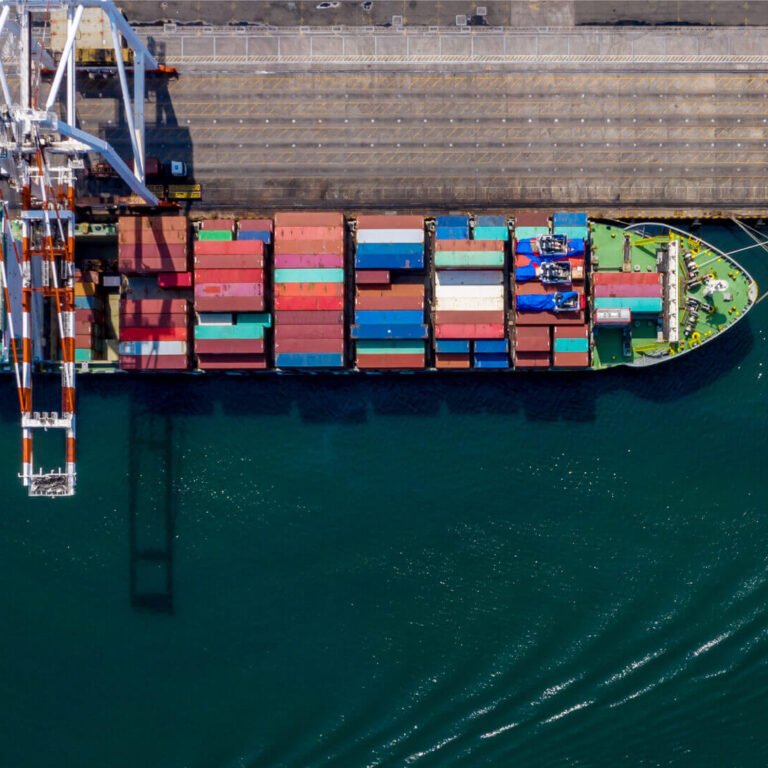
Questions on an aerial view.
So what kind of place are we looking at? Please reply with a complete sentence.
This image shows a port.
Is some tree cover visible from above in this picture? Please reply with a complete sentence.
No, no tree cover is visible.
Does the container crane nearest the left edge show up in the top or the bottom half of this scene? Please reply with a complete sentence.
You can find the container crane nearest the left edge in the top half.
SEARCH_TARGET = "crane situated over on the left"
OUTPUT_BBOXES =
[0,0,182,501]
